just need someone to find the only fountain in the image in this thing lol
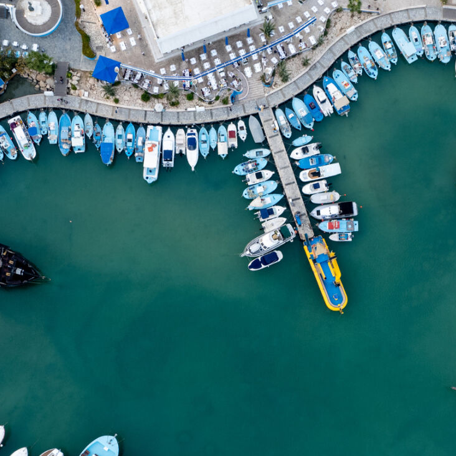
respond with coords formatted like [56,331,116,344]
[11,0,64,39]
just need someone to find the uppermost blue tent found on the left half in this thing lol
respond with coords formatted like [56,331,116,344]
[101,7,129,37]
